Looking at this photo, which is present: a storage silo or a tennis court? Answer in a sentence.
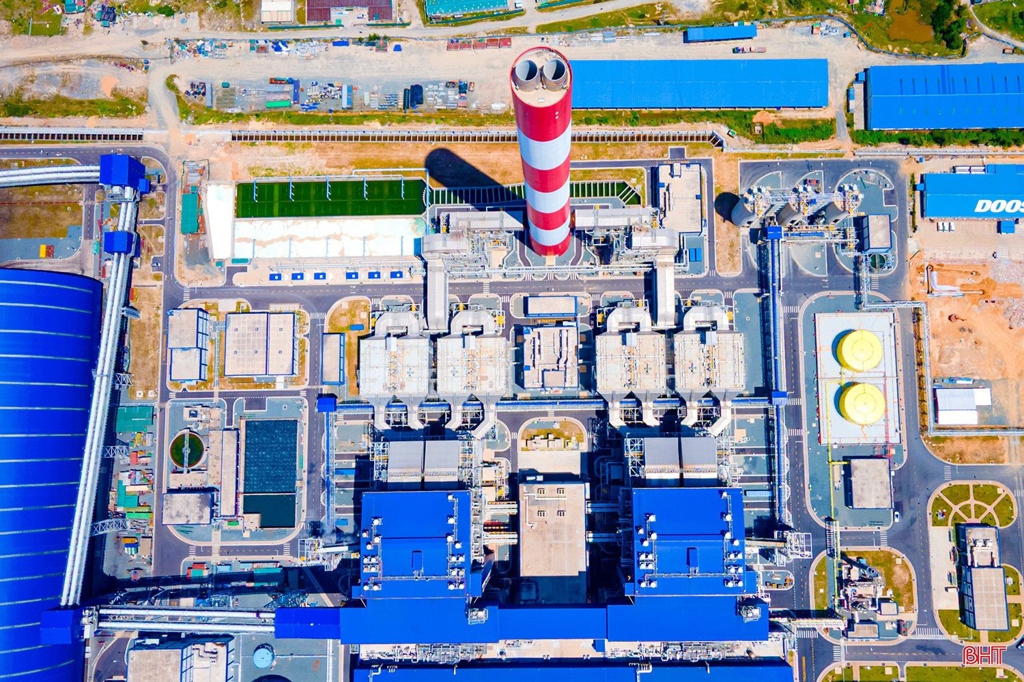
Looking from above, you can make out a storage silo.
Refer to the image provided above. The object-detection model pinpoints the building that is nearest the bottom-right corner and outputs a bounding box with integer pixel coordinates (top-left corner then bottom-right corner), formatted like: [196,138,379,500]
[960,565,1009,630]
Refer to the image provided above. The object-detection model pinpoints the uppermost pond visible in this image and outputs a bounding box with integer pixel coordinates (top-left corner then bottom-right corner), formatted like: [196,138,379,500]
[890,0,933,43]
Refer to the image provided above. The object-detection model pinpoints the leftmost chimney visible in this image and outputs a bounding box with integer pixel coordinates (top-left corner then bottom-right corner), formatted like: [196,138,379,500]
[511,47,572,258]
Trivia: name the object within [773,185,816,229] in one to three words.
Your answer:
silo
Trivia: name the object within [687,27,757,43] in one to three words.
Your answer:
shed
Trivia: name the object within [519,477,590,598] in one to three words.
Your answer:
building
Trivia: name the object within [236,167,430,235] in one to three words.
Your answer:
pond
